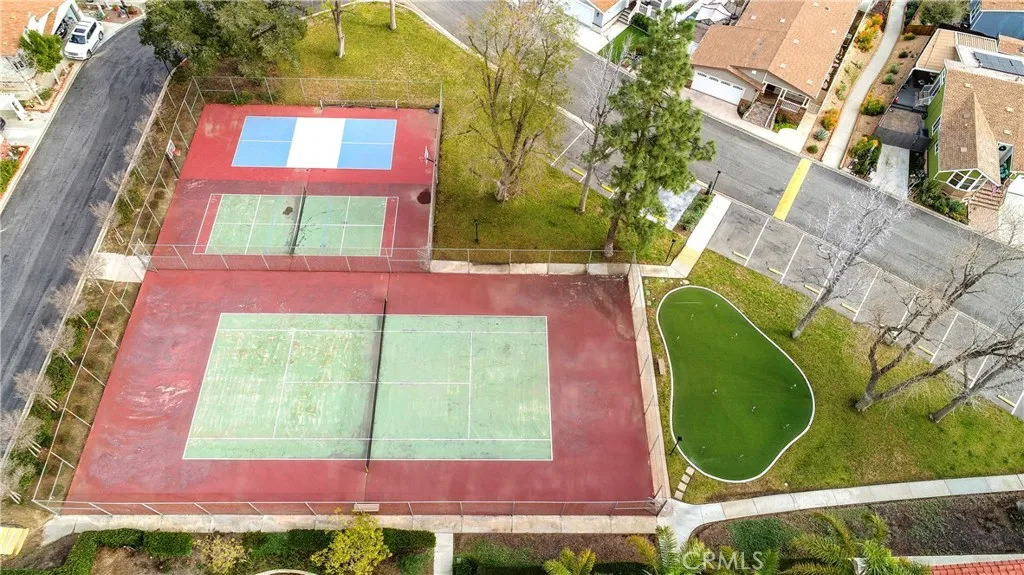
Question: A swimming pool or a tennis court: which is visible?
tennis court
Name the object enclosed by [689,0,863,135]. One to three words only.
house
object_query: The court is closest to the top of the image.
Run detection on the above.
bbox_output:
[178,103,441,184]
